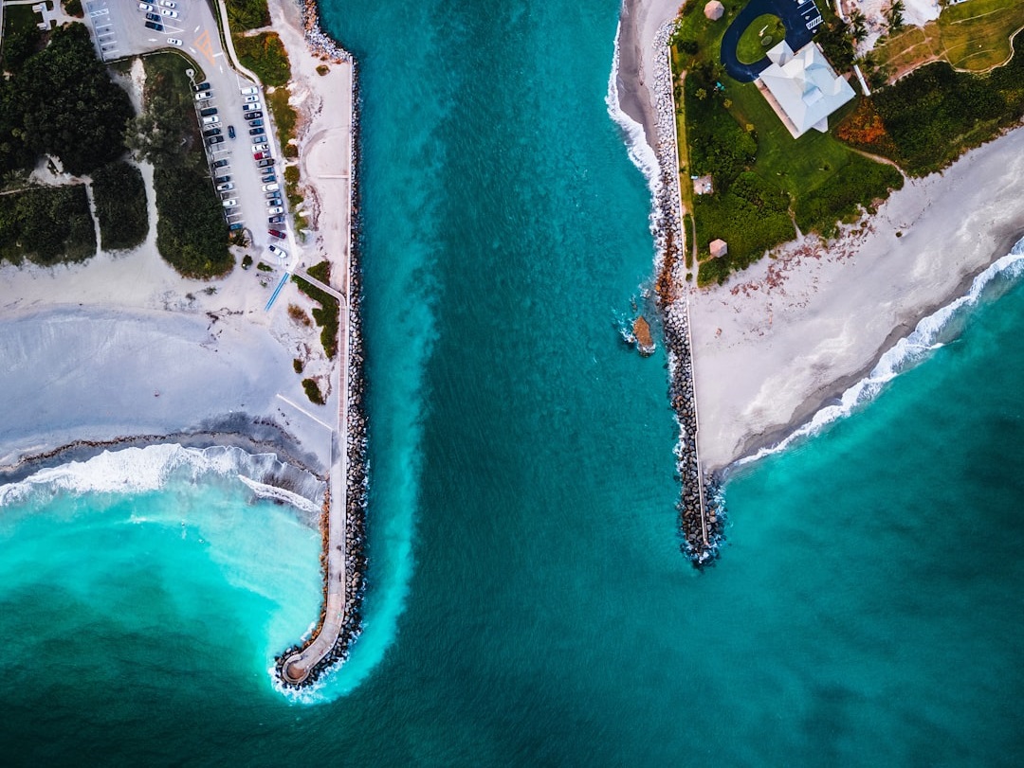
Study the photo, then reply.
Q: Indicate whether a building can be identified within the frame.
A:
Yes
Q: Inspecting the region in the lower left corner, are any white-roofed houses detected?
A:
No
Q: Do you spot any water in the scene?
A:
Yes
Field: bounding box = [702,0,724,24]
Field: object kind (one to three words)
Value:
gazebo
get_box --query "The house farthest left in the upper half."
[752,40,856,139]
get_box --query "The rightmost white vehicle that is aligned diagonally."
[269,244,288,258]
